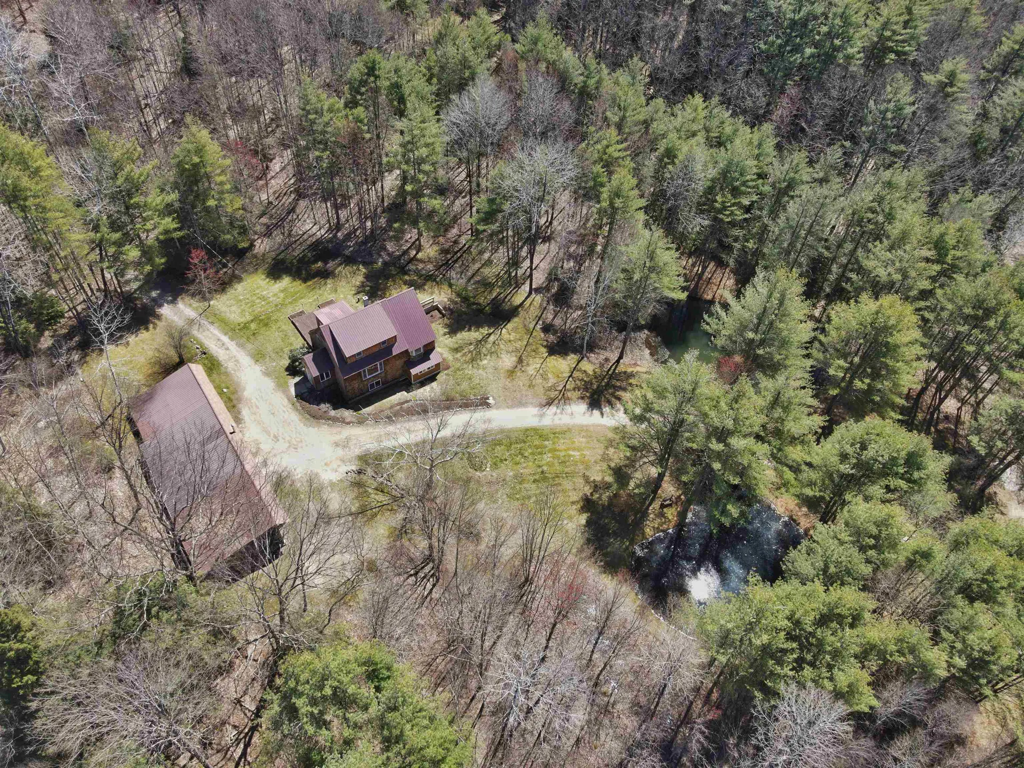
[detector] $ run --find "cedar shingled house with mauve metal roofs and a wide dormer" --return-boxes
[289,286,443,402]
